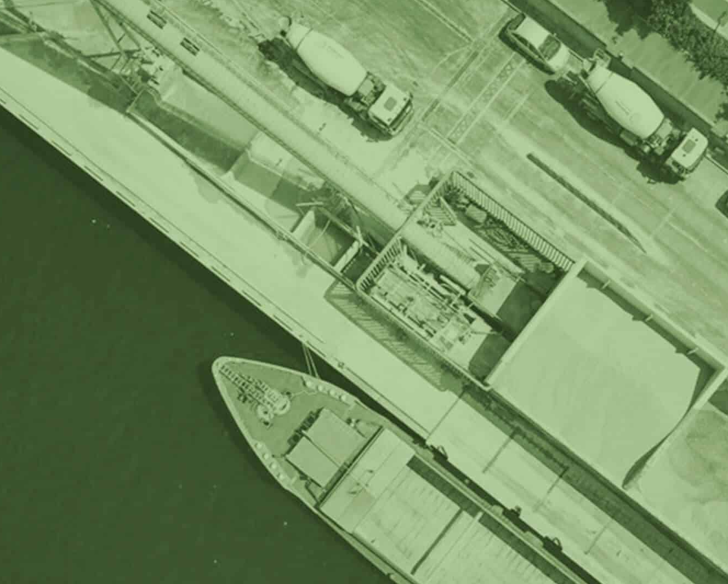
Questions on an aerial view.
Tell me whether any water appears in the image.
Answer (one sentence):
Yes, there's water in this view.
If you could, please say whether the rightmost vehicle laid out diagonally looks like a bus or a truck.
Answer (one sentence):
I'd identify the rightmost vehicle laid out diagonally as a truck.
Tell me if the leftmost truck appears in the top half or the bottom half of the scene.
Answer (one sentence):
The leftmost truck is in the top half of the image.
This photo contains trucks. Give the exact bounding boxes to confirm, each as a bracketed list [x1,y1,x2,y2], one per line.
[572,48,720,185]
[273,10,423,142]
